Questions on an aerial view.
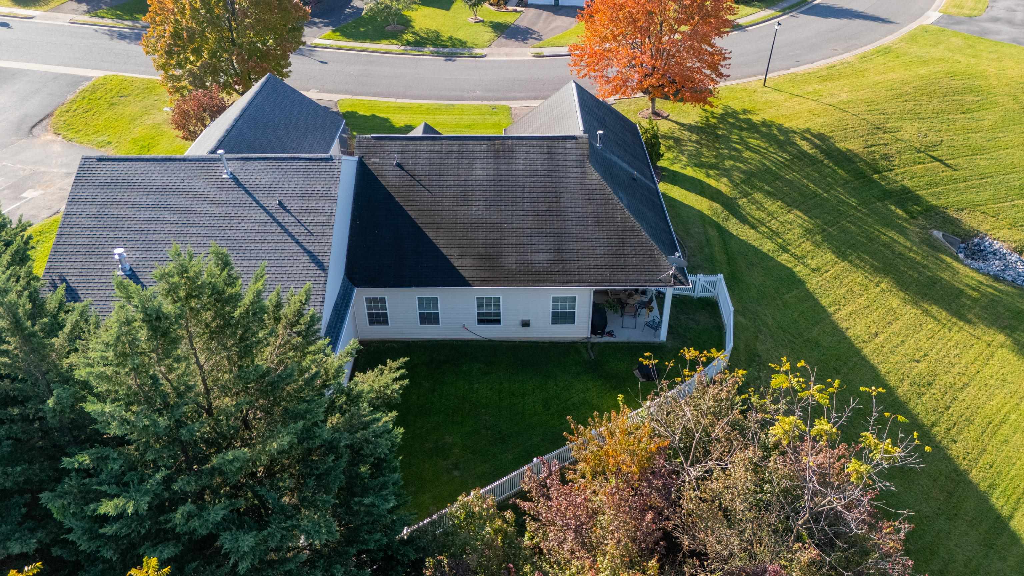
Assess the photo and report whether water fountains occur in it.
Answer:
No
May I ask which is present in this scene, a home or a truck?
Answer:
home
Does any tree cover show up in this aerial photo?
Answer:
Yes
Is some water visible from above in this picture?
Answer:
No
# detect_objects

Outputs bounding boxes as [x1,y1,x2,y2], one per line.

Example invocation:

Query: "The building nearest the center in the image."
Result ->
[345,74,695,341]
